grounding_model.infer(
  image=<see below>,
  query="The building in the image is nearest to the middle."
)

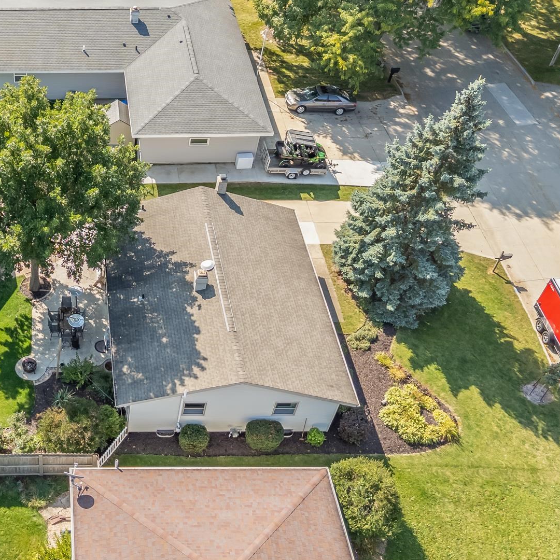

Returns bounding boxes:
[100,174,362,441]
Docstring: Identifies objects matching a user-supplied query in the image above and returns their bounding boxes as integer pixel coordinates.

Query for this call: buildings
[67,464,356,560]
[0,0,276,164]
[100,174,362,441]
